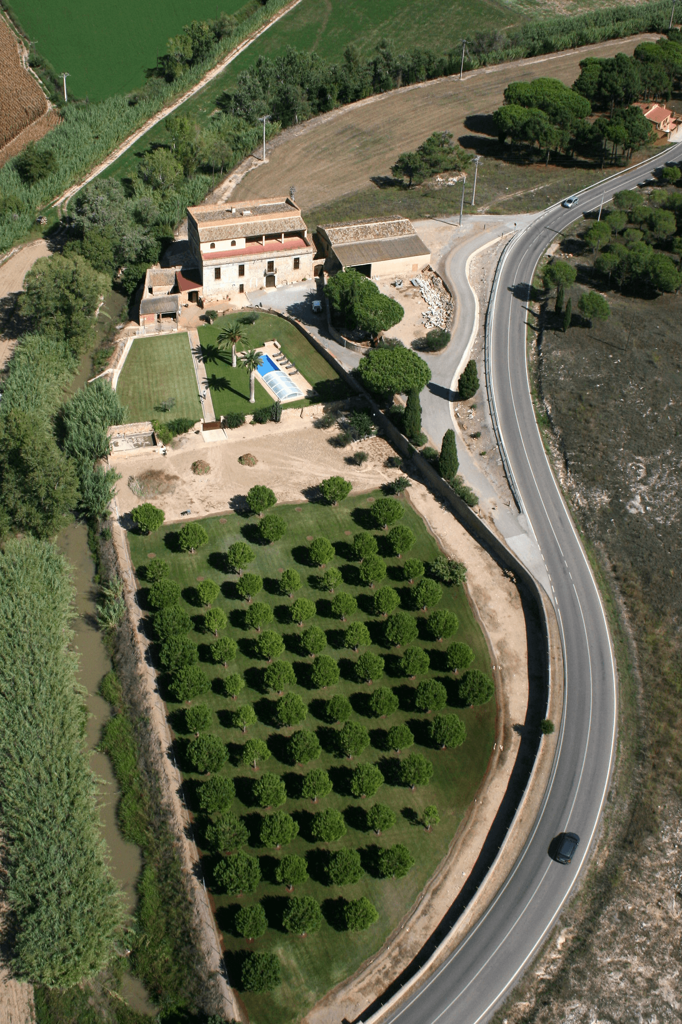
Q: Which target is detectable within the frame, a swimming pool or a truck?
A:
swimming pool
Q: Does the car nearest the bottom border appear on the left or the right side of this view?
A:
right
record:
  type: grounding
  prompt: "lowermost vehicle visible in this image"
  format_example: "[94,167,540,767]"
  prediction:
[559,830,579,860]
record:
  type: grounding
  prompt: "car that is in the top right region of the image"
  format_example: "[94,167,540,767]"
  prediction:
[564,195,579,207]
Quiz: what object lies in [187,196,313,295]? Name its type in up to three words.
house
